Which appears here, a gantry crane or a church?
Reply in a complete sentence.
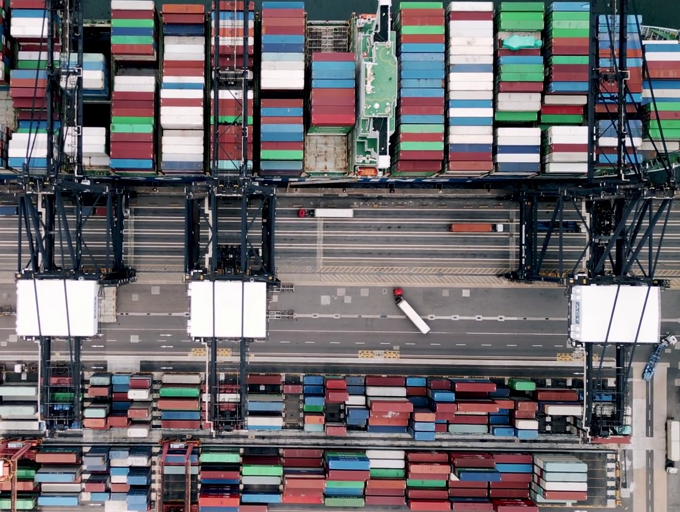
The image shows a gantry crane.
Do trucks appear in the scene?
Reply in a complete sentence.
Yes, a truck can be made out from above.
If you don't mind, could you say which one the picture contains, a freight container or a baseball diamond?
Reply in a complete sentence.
The image shows a freight container.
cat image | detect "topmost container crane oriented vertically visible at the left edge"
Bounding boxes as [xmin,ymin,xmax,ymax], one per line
[15,0,138,446]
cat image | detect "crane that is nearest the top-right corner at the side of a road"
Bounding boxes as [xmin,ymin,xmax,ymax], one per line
[497,0,680,452]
